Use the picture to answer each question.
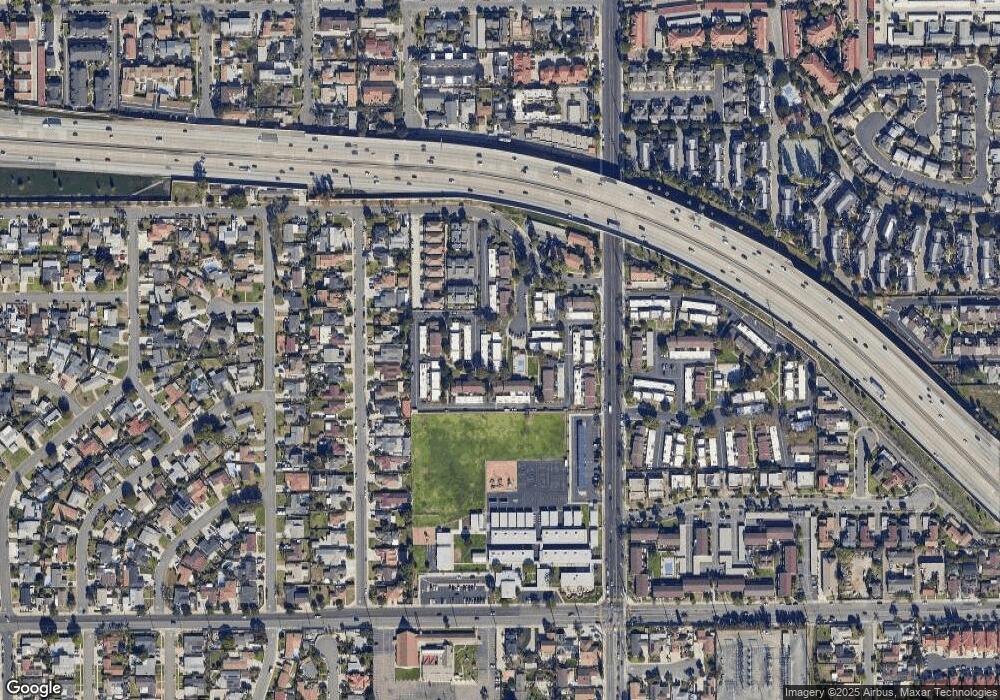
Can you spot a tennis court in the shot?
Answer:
Yes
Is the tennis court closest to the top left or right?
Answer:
right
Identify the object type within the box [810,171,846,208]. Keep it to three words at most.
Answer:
house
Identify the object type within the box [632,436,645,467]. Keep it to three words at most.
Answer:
building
